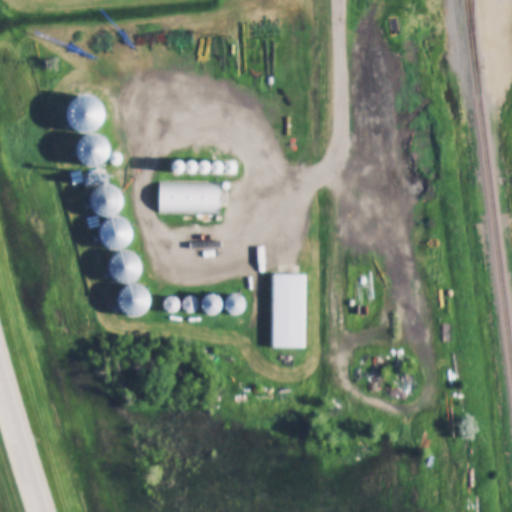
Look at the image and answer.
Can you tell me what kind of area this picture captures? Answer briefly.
industrial area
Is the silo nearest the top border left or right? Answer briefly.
left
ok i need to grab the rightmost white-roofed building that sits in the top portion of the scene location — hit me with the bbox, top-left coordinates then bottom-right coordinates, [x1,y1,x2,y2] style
[158,181,220,213]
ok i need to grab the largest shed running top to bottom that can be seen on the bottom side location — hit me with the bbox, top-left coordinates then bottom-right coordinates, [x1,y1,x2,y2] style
[272,273,308,349]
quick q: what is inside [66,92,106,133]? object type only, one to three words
silo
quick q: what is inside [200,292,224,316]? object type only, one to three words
silo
